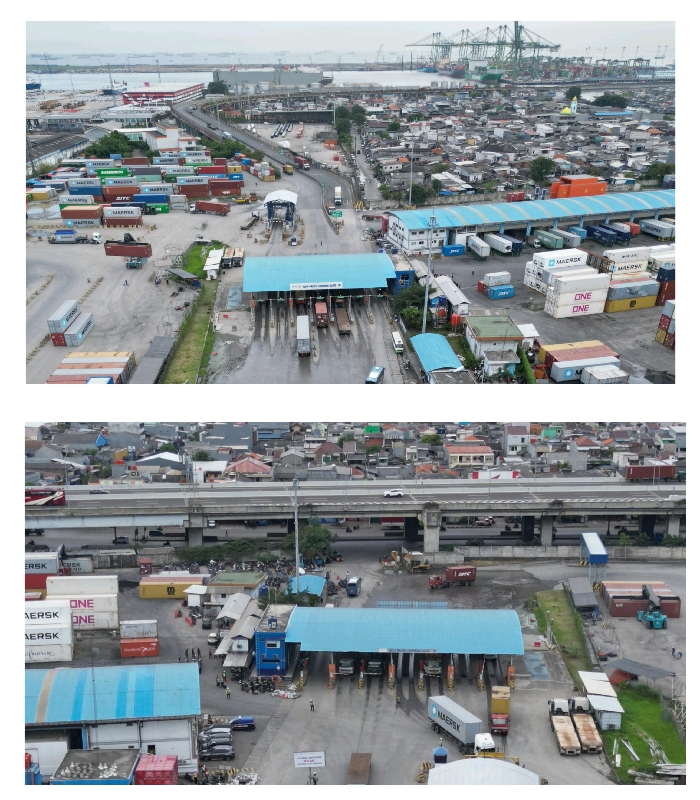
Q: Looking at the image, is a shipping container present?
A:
Yes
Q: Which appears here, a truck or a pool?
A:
truck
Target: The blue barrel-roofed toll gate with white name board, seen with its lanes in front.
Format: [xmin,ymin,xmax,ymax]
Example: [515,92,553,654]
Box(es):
[243,254,396,332]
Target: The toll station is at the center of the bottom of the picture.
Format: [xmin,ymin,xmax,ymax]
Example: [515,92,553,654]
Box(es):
[288,608,531,690]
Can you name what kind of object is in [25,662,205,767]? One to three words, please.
building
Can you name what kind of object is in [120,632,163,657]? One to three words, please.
shipping container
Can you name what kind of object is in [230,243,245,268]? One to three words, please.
vehicle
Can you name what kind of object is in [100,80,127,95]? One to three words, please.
ship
